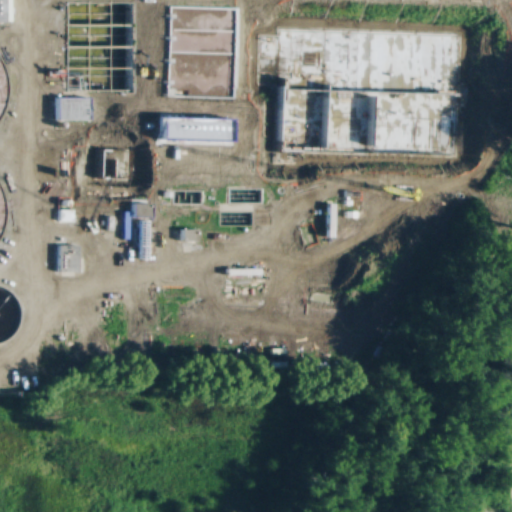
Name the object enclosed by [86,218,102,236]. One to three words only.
vehicle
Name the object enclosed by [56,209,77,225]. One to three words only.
shed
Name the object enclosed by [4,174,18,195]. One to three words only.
vehicle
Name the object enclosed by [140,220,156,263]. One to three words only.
building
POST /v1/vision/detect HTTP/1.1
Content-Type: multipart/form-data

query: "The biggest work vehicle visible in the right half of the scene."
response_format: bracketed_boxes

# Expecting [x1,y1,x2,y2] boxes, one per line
[382,186,420,205]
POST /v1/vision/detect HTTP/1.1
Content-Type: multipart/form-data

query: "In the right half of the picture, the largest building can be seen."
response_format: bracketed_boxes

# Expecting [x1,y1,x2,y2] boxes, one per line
[322,201,338,242]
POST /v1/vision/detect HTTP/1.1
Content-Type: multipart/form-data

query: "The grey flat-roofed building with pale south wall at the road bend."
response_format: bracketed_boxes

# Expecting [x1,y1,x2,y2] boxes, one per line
[57,246,82,274]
